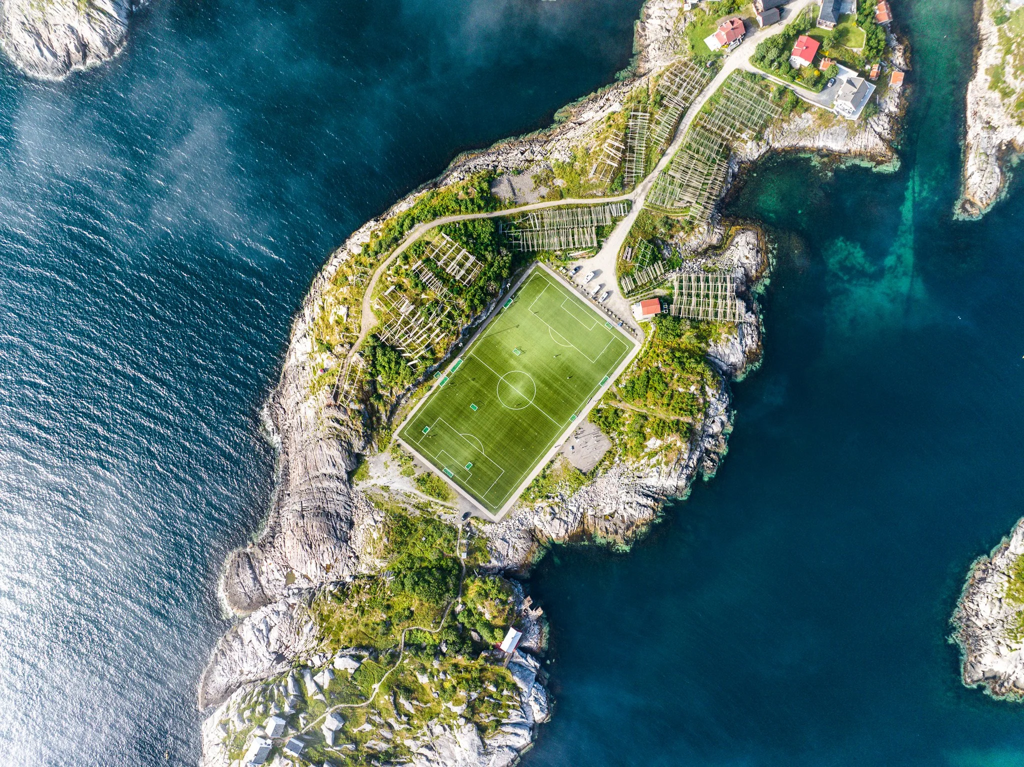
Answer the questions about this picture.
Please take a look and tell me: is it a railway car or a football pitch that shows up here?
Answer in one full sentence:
This aerial view contains a football pitch.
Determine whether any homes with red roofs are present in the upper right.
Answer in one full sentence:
Yes, a home with a red roof appears in the upper right.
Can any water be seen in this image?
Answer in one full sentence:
Yes, water can be seen from above here.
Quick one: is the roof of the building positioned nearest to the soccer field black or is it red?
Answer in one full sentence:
The roof of the building positioned nearest to the soccer field looks red in the image.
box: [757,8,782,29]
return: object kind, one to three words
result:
building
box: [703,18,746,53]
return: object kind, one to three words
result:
house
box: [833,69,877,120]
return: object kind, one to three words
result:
house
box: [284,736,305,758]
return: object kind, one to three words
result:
shed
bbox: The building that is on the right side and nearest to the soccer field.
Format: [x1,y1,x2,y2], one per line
[631,298,661,322]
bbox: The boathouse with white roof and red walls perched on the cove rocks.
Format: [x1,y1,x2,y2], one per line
[496,626,522,654]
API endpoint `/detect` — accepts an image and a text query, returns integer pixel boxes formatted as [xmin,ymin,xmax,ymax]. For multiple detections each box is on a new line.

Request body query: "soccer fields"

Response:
[398,267,636,515]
